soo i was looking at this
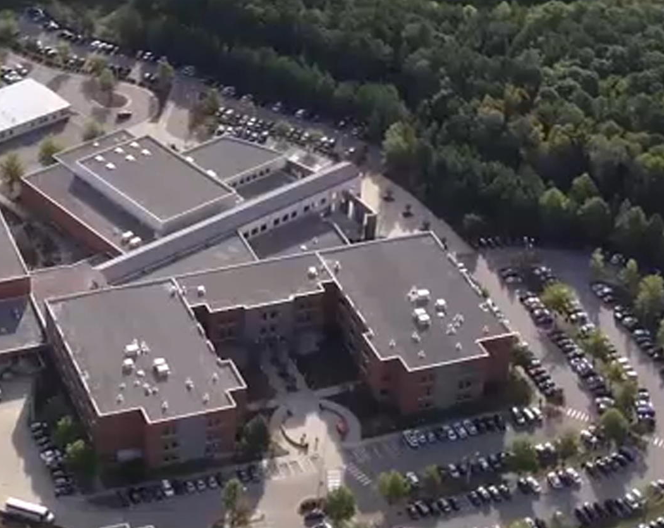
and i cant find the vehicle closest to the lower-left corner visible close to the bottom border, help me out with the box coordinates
[5,496,53,524]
